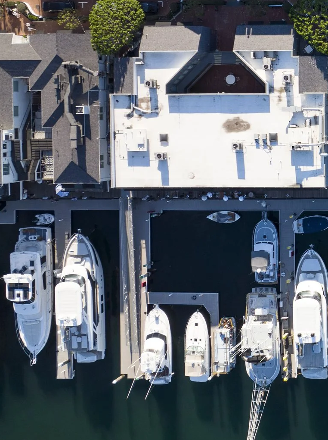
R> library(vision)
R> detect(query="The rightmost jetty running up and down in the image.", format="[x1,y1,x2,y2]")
[280,211,304,380]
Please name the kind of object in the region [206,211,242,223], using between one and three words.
boat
